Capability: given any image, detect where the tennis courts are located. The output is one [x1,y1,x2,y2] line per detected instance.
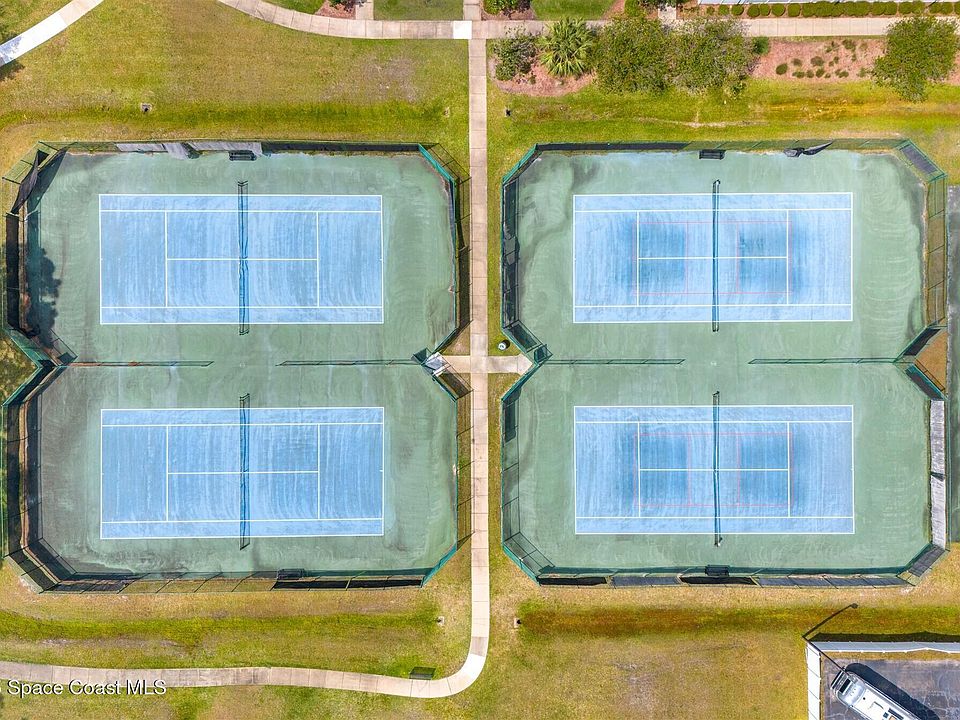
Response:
[27,156,453,364]
[504,154,924,364]
[505,364,927,575]
[27,364,455,578]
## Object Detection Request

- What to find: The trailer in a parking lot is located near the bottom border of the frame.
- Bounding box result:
[830,668,922,720]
